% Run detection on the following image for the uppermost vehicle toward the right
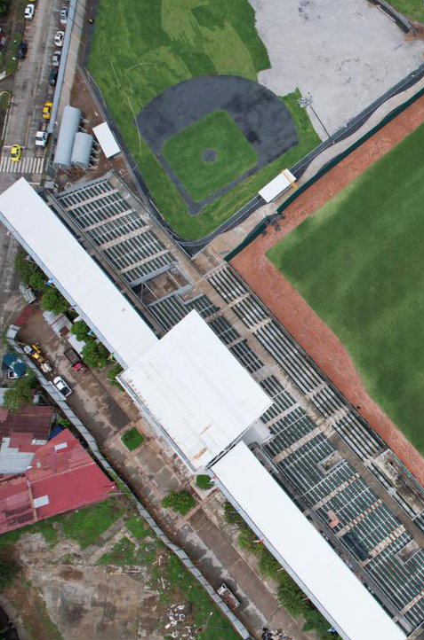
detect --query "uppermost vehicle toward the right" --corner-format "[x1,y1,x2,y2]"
[261,220,276,234]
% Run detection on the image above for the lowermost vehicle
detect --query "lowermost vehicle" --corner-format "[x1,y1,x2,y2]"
[217,584,241,611]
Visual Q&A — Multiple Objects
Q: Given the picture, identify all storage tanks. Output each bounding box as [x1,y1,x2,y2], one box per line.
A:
[53,103,90,169]
[72,130,100,169]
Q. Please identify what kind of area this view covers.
sports ground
